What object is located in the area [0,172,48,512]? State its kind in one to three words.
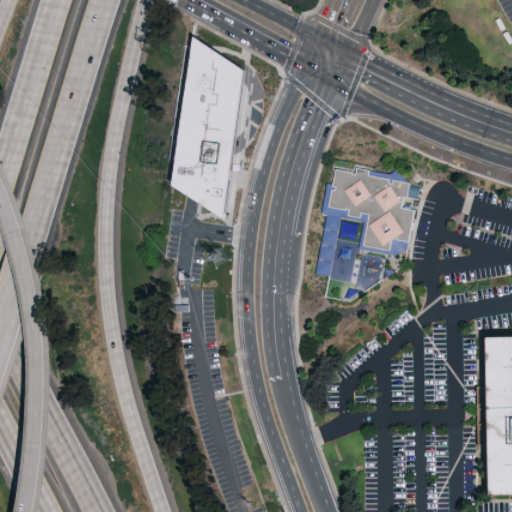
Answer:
overpass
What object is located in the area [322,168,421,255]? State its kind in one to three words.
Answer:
building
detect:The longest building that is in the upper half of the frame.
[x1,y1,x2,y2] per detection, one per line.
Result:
[170,34,244,218]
